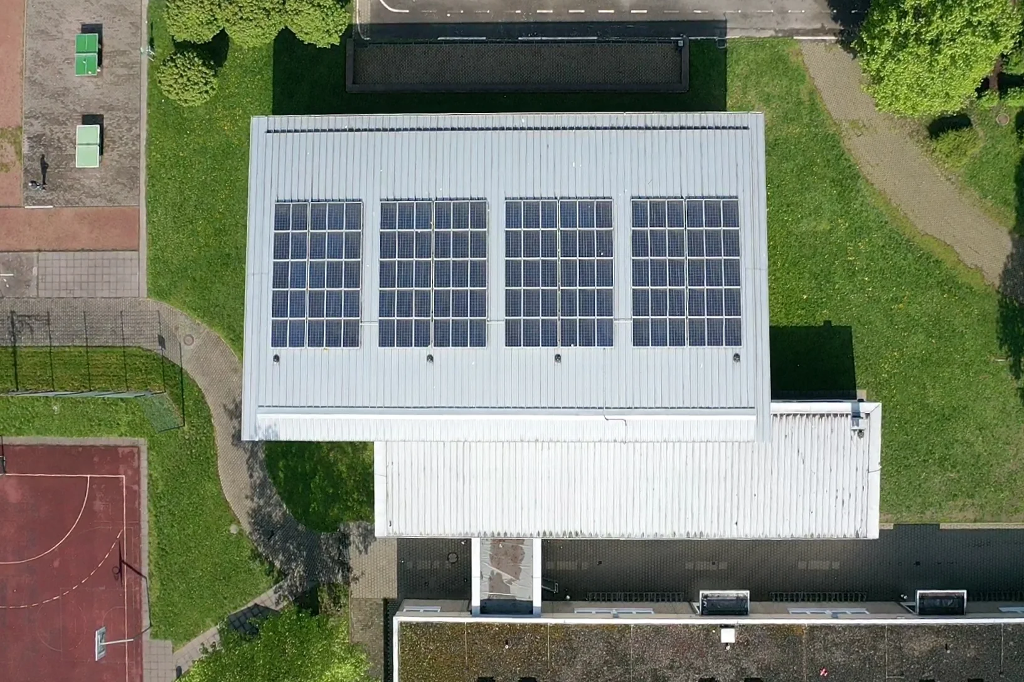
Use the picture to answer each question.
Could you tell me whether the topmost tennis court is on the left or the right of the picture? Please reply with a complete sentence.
The topmost tennis court is on the left side of the image.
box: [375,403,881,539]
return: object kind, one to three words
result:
building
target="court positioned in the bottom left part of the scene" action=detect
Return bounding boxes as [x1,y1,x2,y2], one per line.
[0,446,144,682]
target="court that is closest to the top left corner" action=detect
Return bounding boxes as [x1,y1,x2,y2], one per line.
[24,0,140,205]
